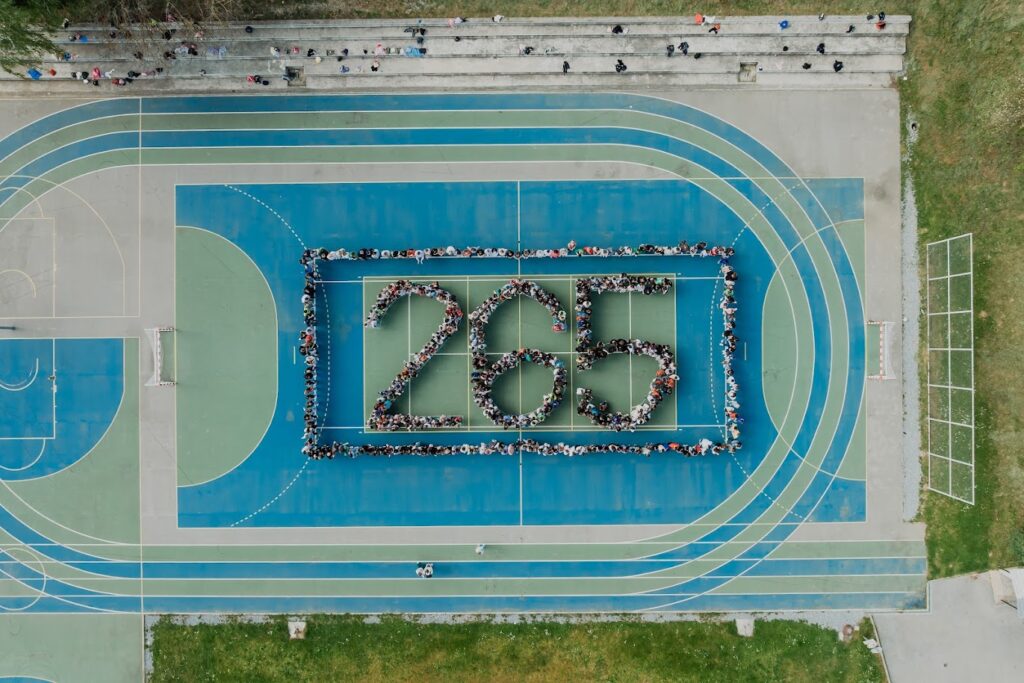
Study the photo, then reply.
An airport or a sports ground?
sports ground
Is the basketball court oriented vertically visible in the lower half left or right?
left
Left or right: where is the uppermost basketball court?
left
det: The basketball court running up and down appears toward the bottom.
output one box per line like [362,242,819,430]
[0,336,144,683]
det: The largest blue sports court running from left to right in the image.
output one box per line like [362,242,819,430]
[160,177,883,529]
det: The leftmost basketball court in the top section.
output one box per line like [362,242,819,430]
[0,96,142,318]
